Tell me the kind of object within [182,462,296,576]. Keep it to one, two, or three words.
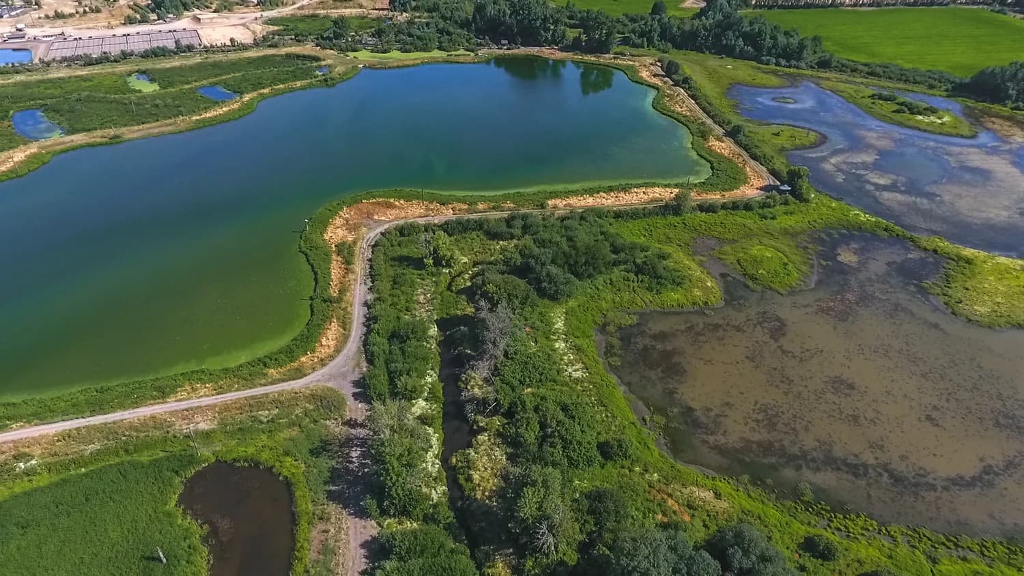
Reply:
pond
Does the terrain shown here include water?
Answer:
Yes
